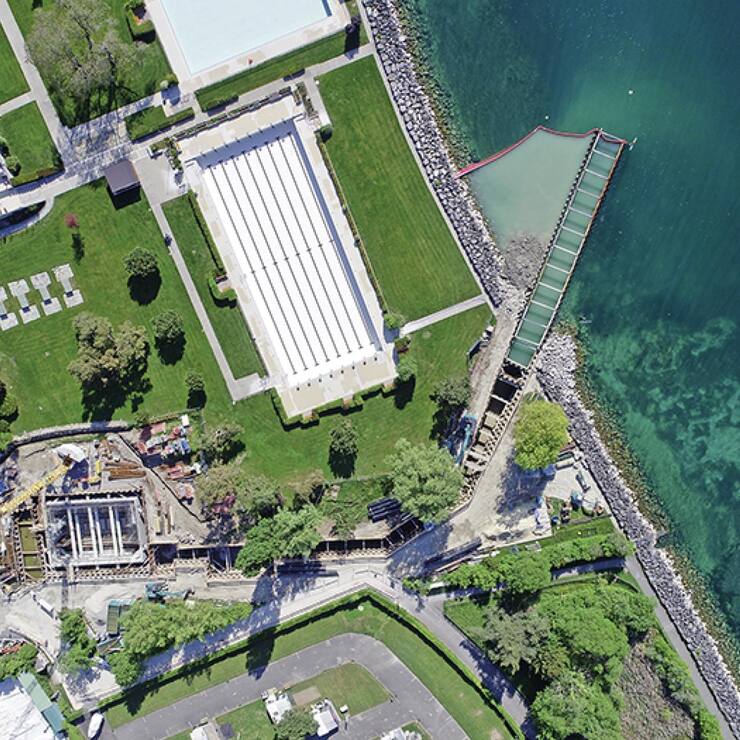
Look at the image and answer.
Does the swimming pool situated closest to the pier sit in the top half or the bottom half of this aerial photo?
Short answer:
top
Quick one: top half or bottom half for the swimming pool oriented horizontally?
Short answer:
top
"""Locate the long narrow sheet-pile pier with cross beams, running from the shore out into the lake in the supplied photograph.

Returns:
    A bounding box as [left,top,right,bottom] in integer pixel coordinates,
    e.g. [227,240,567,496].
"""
[507,129,629,369]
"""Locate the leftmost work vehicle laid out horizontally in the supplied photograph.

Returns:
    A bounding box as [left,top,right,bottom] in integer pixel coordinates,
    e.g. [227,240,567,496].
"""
[141,581,193,597]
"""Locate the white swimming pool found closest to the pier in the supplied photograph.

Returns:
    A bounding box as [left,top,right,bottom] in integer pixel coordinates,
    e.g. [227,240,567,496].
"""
[183,112,386,388]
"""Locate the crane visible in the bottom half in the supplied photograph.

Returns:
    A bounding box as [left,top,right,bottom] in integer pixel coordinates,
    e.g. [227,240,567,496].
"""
[0,458,72,513]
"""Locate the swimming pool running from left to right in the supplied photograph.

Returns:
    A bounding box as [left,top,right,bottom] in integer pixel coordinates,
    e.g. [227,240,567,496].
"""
[158,0,334,79]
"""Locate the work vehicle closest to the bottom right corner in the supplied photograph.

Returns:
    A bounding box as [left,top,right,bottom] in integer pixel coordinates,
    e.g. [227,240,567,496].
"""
[577,473,591,494]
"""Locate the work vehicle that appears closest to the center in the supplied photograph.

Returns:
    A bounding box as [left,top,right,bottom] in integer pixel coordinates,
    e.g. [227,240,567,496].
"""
[452,420,476,472]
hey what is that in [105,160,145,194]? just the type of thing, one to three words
shed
